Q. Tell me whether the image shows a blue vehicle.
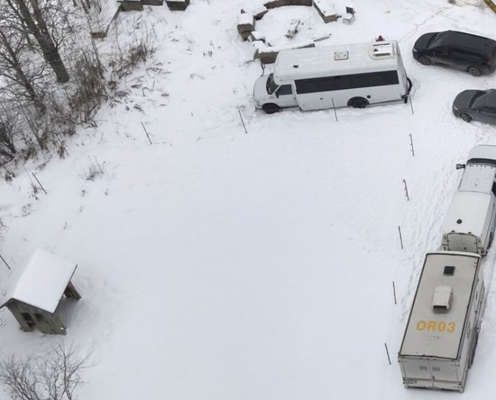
No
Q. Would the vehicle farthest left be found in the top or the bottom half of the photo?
top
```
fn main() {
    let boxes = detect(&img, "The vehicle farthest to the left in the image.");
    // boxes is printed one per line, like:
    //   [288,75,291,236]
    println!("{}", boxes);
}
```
[259,44,417,109]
